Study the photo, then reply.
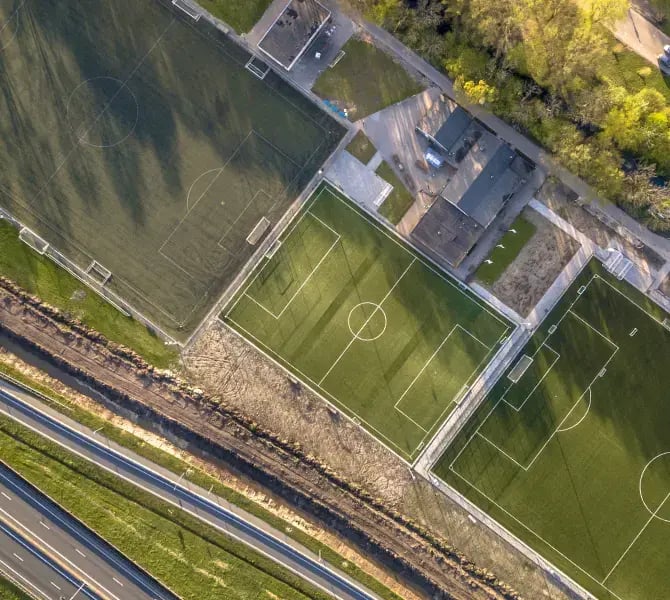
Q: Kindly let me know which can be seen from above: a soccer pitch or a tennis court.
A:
soccer pitch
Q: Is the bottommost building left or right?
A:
right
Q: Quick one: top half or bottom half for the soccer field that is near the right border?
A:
bottom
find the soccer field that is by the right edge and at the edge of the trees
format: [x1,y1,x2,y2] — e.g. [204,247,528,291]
[425,254,670,600]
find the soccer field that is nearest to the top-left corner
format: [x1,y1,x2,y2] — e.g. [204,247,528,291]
[0,0,345,347]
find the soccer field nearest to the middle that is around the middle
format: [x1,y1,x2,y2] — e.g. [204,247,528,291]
[218,177,519,467]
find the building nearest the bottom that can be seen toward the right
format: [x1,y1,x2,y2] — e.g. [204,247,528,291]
[411,196,485,267]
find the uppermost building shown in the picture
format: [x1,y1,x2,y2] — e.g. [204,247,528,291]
[258,0,331,72]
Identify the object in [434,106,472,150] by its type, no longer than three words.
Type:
shed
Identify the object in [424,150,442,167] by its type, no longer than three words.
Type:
vehicle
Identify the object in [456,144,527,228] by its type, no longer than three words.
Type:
building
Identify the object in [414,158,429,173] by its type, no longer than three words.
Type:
car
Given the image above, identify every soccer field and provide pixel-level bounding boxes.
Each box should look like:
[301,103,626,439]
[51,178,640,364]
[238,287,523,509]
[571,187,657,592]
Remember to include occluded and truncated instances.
[218,177,519,467]
[425,254,670,600]
[0,0,345,347]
